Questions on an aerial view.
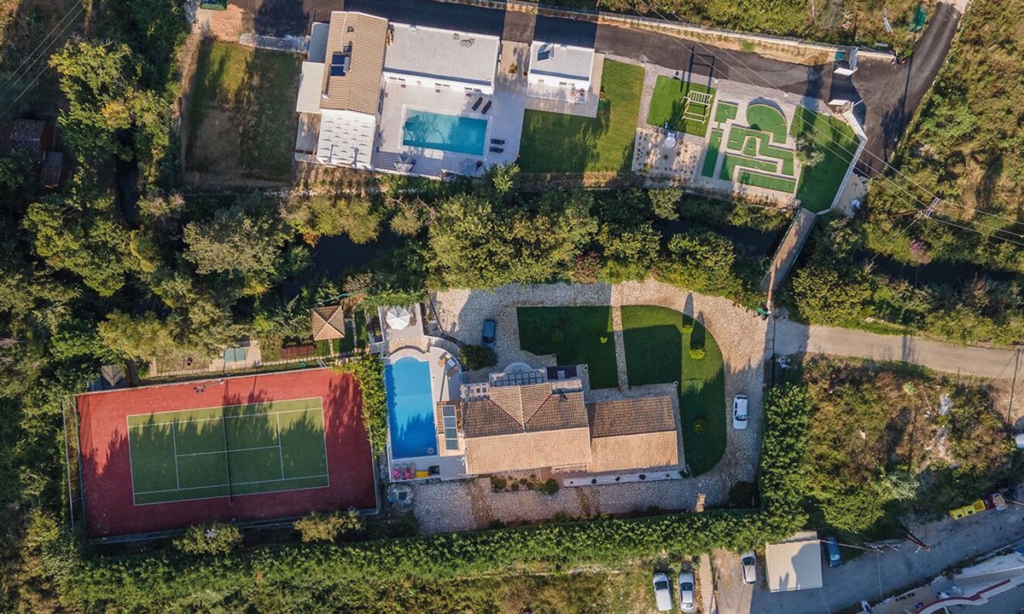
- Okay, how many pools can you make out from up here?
2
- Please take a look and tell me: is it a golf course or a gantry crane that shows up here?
golf course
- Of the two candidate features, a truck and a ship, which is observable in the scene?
truck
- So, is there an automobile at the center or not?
Yes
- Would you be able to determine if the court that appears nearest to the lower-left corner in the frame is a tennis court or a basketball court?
tennis court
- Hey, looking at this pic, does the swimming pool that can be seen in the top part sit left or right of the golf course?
to the left of it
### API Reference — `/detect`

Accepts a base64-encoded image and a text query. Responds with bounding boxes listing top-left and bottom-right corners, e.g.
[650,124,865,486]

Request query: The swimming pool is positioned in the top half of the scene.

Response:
[372,66,527,178]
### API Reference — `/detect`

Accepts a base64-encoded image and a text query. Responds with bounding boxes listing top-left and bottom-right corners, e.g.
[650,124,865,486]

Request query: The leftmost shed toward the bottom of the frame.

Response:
[101,365,135,388]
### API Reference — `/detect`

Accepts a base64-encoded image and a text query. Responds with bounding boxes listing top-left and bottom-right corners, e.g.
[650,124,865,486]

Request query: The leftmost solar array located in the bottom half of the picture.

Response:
[442,404,460,451]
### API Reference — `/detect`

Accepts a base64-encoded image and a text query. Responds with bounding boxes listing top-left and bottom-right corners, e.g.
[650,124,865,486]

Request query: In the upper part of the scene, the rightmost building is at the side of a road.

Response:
[526,41,595,105]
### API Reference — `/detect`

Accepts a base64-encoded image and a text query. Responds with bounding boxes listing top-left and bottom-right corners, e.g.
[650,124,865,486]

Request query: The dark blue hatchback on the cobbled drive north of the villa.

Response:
[480,319,496,348]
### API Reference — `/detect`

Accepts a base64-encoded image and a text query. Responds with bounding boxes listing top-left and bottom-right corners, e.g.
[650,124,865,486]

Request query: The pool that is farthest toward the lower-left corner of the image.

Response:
[382,338,465,483]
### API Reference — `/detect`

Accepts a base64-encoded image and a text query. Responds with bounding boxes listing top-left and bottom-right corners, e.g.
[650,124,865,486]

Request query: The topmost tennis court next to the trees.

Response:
[77,369,376,539]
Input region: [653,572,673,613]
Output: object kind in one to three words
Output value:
car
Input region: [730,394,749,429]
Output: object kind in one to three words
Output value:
car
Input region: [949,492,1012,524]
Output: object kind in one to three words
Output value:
truck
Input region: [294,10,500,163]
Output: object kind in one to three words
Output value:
house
